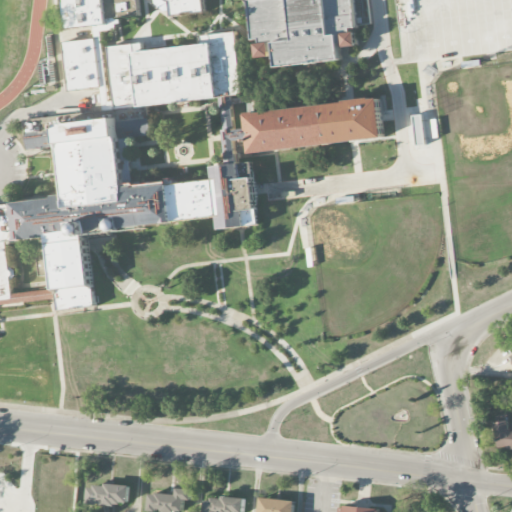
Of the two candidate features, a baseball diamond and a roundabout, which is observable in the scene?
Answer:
baseball diamond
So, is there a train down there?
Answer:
No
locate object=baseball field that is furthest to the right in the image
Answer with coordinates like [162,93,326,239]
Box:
[438,62,512,263]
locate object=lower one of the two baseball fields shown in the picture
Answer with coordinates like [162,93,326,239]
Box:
[316,192,444,337]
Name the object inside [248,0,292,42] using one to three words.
building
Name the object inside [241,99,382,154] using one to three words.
building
